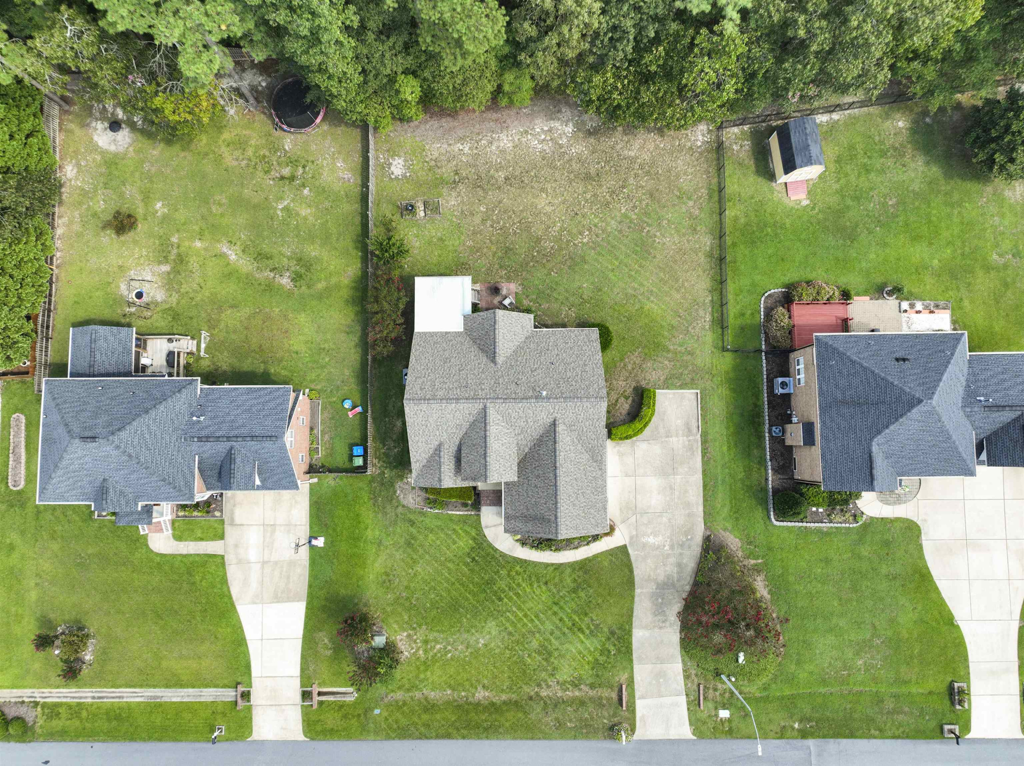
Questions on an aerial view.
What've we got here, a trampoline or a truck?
trampoline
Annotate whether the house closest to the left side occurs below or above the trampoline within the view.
below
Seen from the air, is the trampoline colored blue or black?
black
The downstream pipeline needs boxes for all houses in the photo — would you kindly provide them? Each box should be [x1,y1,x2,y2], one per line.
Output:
[404,275,610,539]
[784,330,1024,493]
[34,326,322,535]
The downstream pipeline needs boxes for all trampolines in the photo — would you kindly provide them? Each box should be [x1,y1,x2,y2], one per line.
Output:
[272,80,327,135]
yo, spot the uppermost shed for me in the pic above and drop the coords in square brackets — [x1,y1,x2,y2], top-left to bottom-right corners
[768,119,825,200]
